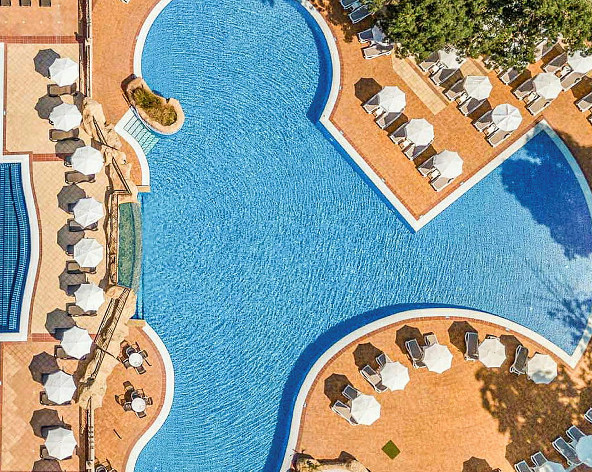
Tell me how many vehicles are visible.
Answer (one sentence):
I count no vehicles.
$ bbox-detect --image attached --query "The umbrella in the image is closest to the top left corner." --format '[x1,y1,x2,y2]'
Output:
[50,56,81,88]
